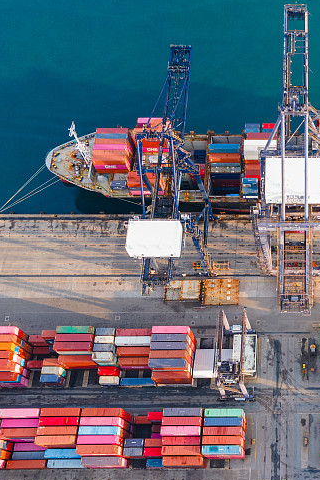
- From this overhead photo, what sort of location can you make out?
port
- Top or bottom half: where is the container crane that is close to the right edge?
top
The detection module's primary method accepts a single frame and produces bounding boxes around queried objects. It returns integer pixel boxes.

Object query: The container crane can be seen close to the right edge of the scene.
[250,2,320,312]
